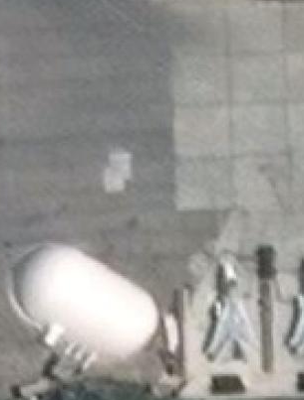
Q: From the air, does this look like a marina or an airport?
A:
airport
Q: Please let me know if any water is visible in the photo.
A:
No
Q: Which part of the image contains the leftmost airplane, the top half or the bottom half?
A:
bottom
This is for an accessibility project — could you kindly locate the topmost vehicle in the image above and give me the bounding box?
[259,247,273,280]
